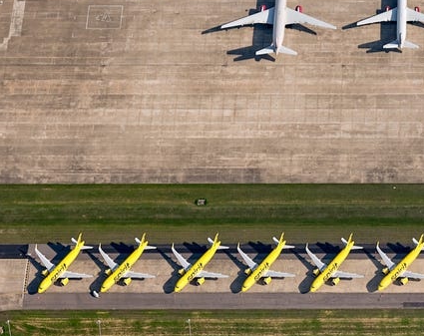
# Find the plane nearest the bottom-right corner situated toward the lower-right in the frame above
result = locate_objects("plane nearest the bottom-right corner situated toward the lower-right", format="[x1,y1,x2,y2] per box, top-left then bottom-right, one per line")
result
[376,234,424,290]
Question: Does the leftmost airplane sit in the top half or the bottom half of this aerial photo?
bottom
